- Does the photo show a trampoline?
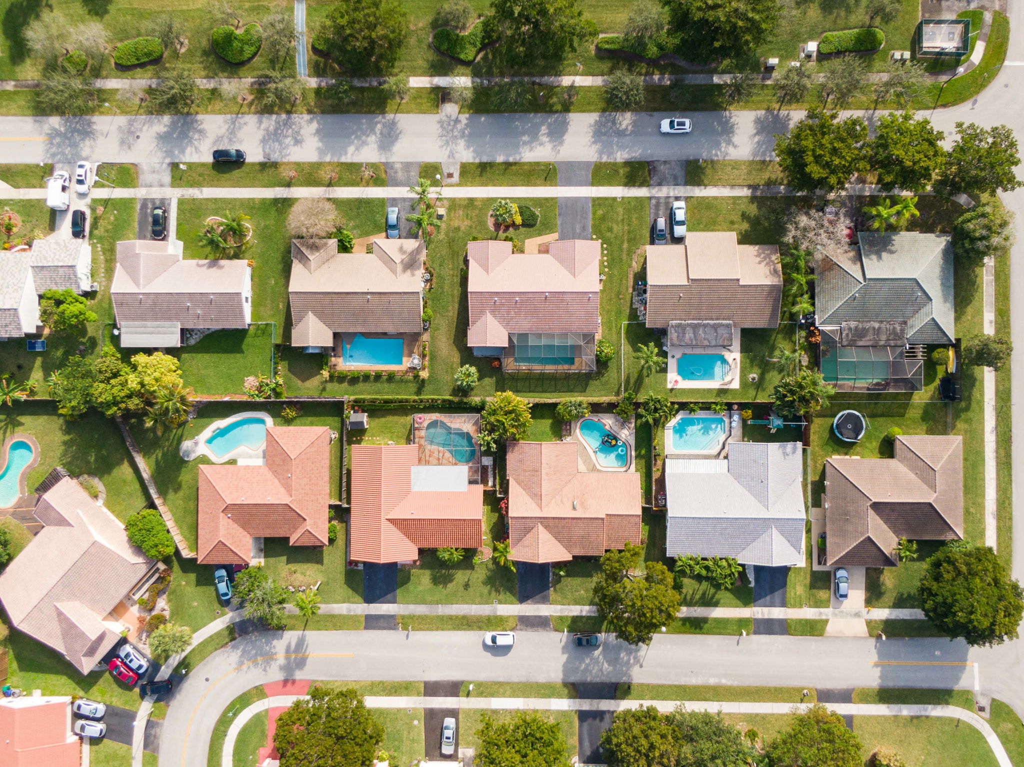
Yes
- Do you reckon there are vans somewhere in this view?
Yes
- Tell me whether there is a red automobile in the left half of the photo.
Yes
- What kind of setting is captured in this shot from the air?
residential area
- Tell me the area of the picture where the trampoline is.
right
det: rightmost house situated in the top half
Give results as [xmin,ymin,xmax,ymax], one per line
[811,232,955,347]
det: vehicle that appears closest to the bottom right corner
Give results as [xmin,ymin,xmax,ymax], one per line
[833,568,850,601]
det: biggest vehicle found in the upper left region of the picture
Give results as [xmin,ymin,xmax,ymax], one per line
[43,171,71,212]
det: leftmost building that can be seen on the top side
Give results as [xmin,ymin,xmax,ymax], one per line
[0,239,93,343]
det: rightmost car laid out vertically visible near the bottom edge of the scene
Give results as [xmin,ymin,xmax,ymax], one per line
[440,717,456,754]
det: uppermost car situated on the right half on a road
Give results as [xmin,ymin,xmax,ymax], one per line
[660,117,692,133]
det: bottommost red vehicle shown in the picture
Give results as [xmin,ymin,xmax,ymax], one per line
[111,657,137,686]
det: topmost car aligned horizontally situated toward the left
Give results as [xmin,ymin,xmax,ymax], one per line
[212,147,246,163]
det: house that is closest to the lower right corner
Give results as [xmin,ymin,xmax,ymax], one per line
[821,435,963,567]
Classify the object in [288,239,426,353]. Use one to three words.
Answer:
house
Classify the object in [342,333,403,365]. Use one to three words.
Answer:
swimming pool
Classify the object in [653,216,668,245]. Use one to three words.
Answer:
car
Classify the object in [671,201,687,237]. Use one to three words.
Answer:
car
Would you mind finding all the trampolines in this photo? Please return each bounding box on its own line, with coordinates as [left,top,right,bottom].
[833,410,870,442]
